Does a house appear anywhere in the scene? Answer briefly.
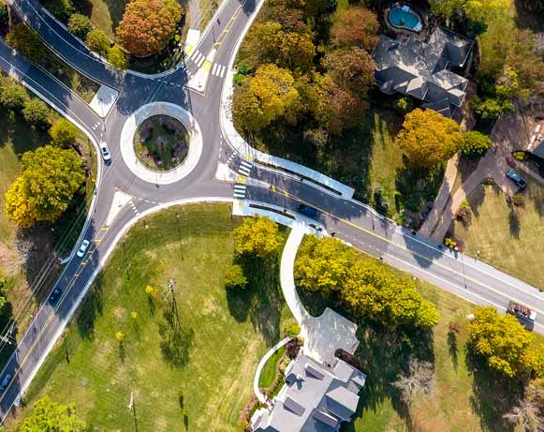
Yes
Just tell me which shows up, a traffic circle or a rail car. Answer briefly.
traffic circle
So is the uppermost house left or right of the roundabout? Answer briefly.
right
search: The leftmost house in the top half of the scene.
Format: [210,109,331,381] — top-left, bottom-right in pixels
[373,23,477,121]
